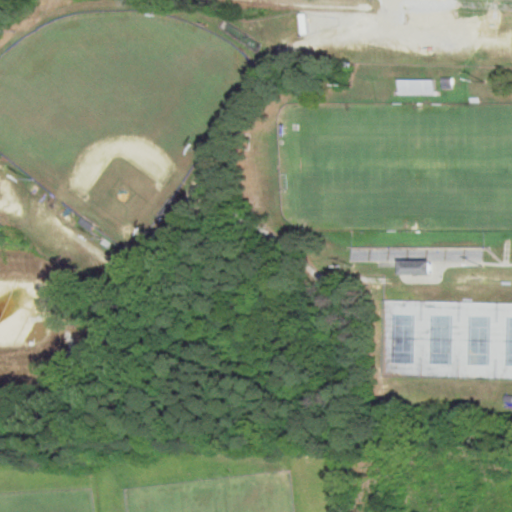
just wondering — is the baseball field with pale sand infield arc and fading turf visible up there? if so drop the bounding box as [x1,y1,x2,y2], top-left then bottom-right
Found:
[0,10,247,250]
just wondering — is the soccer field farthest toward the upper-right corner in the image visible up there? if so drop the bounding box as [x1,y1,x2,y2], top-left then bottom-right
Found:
[279,104,512,230]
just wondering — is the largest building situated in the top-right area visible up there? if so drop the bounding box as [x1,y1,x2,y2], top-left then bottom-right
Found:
[396,78,436,94]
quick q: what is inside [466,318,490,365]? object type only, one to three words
tennis court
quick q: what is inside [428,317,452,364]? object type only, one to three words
tennis court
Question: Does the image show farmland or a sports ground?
sports ground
